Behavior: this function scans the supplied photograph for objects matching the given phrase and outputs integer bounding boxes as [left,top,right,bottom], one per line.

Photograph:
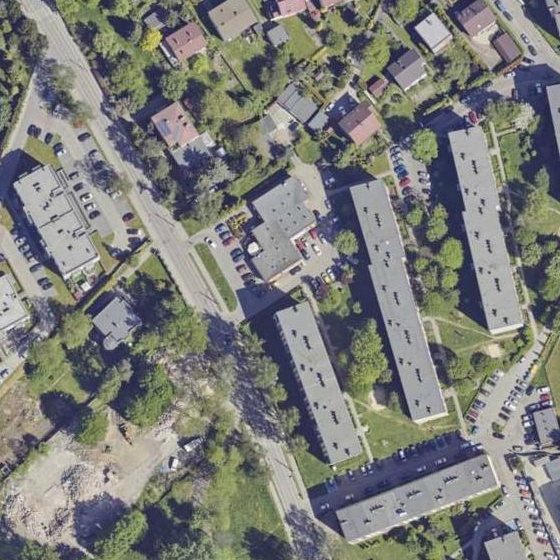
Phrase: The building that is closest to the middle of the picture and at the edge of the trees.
[253,177,318,282]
